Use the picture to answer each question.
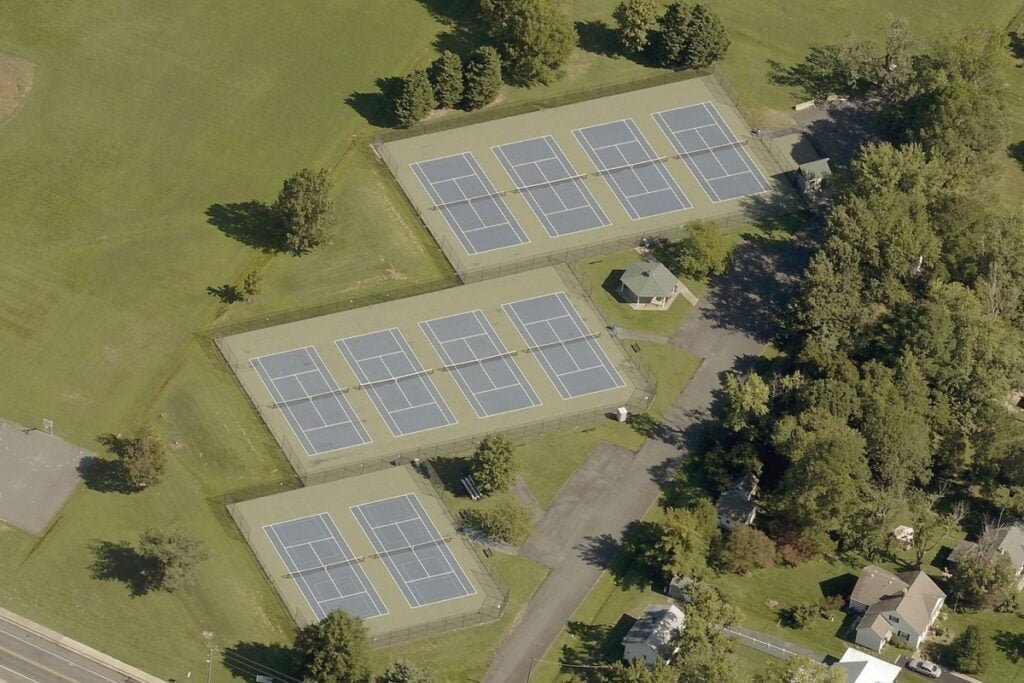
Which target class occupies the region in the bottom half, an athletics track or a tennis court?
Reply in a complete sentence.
Visible in the bottom half is a tennis court.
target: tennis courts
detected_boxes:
[263,512,390,623]
[335,327,458,436]
[491,135,612,237]
[571,118,693,220]
[502,291,626,399]
[652,102,773,203]
[410,151,531,254]
[418,309,543,417]
[250,345,373,455]
[350,493,476,607]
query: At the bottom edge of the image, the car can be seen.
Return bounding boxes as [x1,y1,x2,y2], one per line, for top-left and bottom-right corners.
[911,657,944,676]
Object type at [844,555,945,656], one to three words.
house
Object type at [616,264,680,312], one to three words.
gazebo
